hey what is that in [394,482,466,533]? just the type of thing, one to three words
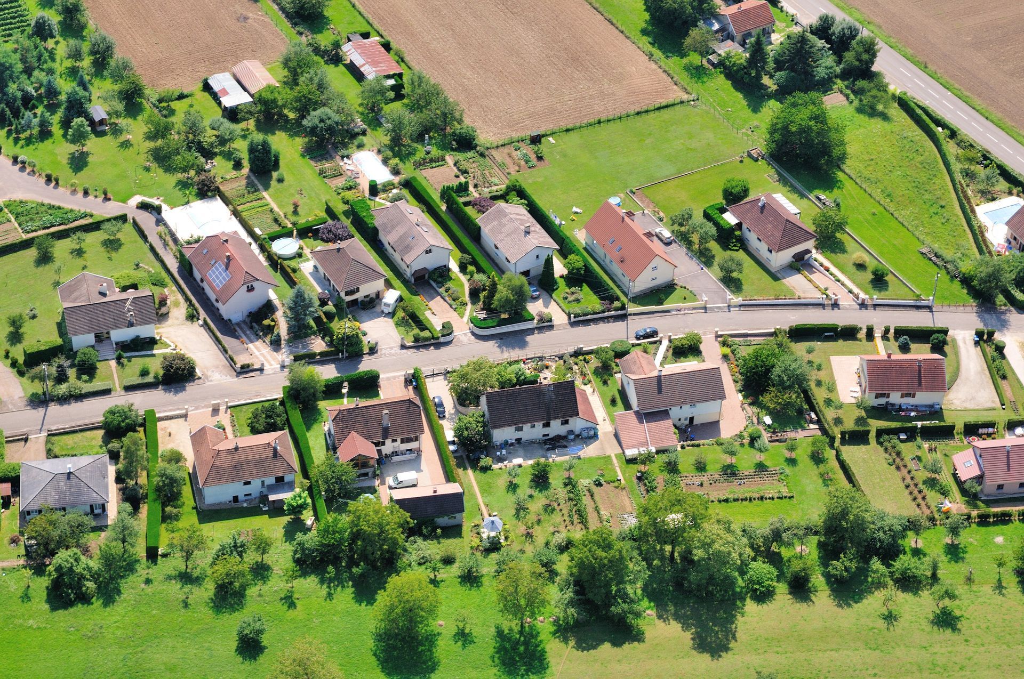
shed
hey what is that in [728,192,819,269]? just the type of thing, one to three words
house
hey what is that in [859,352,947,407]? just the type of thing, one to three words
house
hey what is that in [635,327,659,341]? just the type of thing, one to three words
car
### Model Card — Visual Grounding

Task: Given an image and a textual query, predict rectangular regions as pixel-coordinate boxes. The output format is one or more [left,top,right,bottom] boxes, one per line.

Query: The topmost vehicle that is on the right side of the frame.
[655,227,675,243]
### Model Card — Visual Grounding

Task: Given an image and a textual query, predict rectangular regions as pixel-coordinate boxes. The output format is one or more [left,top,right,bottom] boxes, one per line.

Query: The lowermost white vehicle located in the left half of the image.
[390,471,419,489]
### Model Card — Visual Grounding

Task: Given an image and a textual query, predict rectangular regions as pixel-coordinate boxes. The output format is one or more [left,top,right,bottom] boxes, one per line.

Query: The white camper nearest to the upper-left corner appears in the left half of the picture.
[381,288,402,316]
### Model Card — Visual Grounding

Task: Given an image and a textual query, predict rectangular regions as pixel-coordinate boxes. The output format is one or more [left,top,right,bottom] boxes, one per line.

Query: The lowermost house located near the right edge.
[947,439,1024,497]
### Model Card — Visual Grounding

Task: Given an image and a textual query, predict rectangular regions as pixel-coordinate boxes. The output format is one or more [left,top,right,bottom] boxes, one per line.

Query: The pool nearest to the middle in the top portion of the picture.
[608,195,623,208]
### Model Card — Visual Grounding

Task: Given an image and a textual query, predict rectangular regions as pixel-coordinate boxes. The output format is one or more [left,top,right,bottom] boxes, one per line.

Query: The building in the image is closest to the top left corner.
[90,105,111,132]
